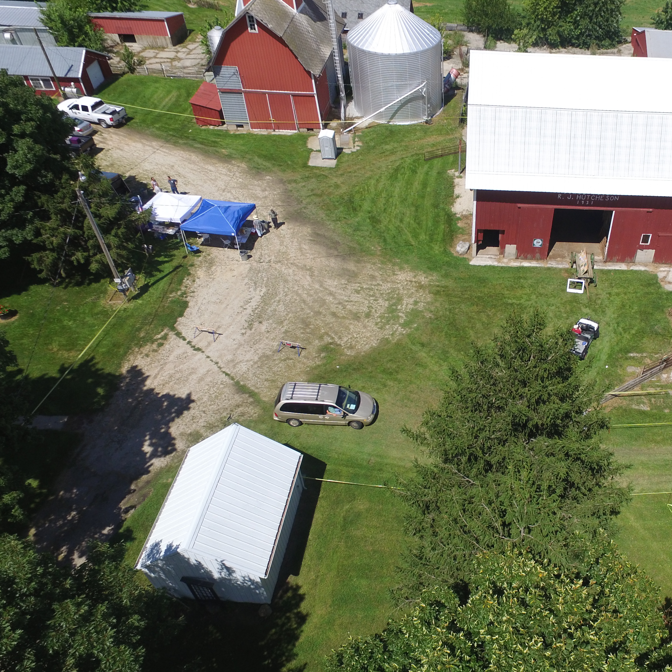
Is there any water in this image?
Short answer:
No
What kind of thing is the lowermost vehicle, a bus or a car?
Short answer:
car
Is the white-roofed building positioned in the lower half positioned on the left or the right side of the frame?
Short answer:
left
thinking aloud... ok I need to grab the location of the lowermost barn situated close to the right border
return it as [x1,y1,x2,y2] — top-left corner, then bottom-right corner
[466,50,672,263]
